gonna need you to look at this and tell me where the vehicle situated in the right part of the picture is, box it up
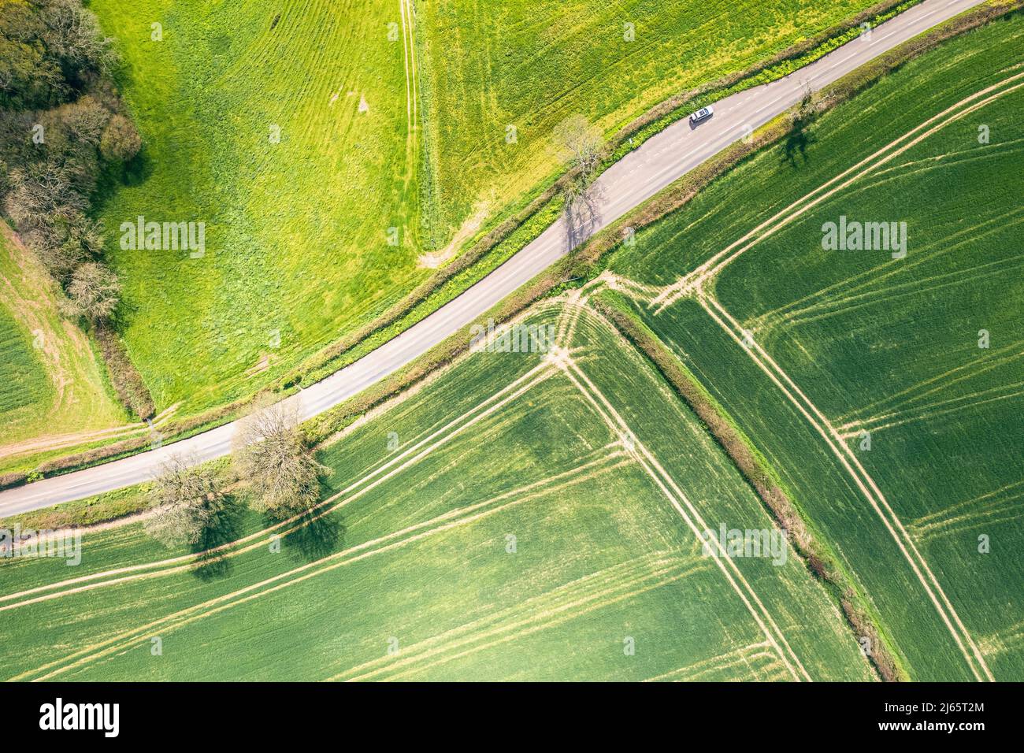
[690,107,714,125]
